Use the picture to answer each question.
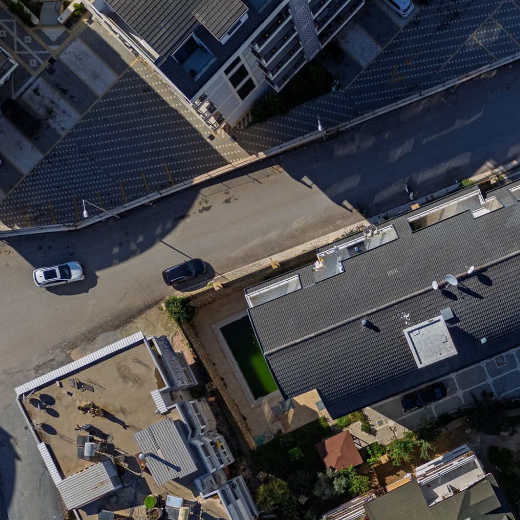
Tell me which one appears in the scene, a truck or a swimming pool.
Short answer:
swimming pool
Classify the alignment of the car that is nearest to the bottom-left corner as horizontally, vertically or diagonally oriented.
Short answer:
horizontally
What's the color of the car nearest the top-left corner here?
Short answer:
black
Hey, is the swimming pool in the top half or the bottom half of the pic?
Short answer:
bottom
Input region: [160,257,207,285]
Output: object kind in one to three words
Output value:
car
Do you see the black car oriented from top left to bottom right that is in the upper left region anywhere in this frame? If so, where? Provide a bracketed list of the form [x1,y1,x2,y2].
[2,99,45,140]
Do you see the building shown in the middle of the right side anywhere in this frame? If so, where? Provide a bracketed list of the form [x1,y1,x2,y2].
[243,179,520,420]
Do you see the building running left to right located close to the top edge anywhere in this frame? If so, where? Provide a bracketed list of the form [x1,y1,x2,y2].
[78,0,373,142]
